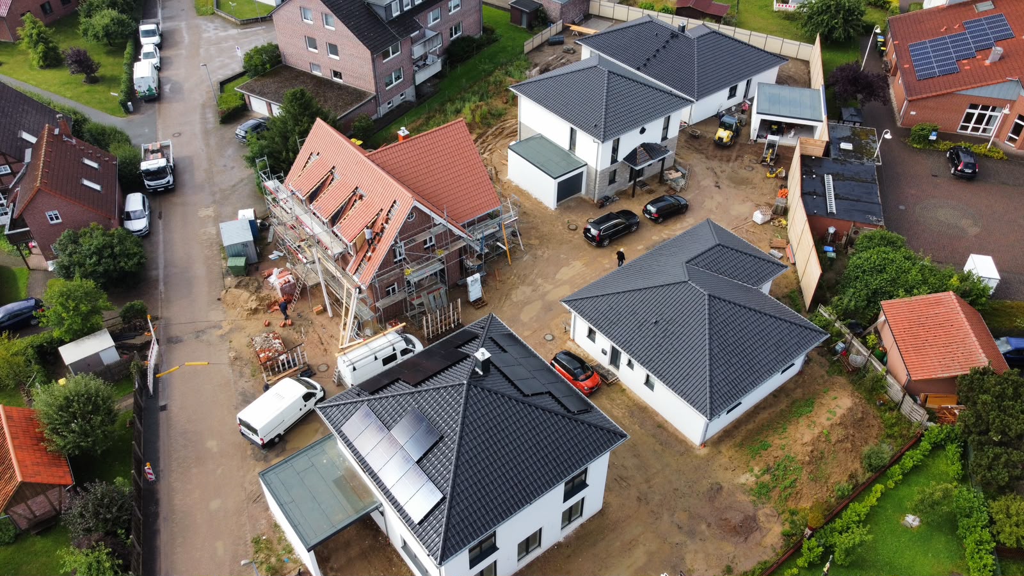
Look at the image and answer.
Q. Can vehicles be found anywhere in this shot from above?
Yes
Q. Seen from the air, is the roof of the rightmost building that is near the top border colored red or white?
red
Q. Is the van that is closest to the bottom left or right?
left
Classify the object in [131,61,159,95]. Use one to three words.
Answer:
van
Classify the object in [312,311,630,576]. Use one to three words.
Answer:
house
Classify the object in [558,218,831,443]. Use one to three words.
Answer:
house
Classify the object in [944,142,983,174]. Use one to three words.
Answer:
car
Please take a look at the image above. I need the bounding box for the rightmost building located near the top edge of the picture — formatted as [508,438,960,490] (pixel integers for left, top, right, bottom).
[882,0,1024,155]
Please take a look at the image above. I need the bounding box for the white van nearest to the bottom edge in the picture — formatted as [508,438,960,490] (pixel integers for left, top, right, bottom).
[224,374,333,453]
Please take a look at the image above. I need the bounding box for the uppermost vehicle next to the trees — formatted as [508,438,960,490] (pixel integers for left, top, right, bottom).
[139,15,162,44]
